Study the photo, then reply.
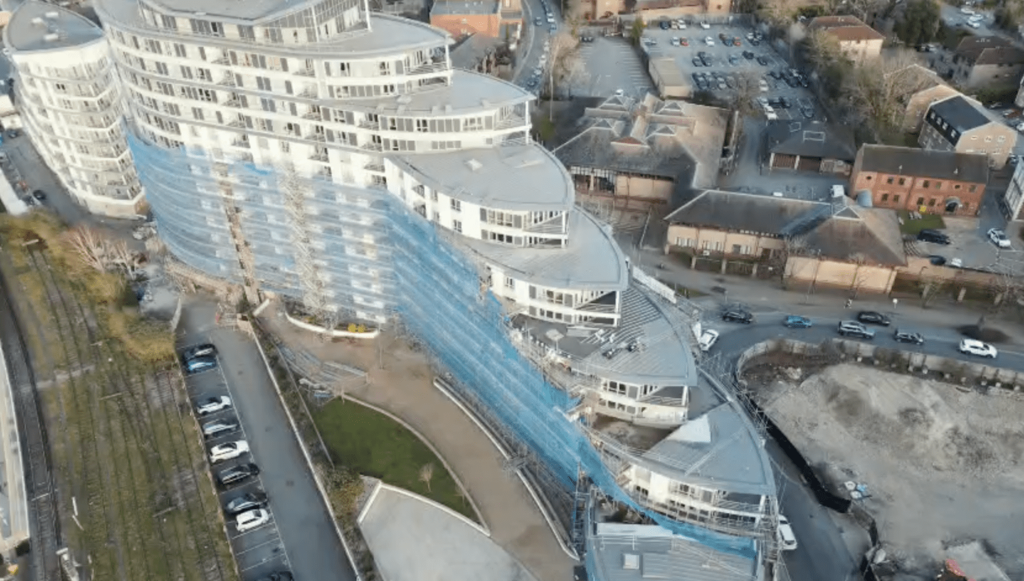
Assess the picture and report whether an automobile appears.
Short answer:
Yes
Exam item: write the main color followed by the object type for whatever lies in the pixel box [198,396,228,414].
white car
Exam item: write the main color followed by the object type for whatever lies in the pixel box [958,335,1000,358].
white car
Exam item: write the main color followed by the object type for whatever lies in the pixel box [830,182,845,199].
white vehicle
